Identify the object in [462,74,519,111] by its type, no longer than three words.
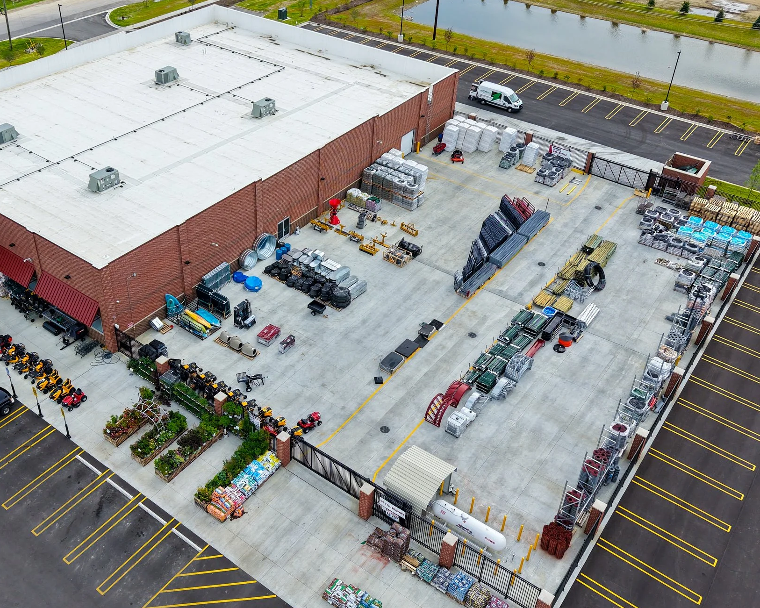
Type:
van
